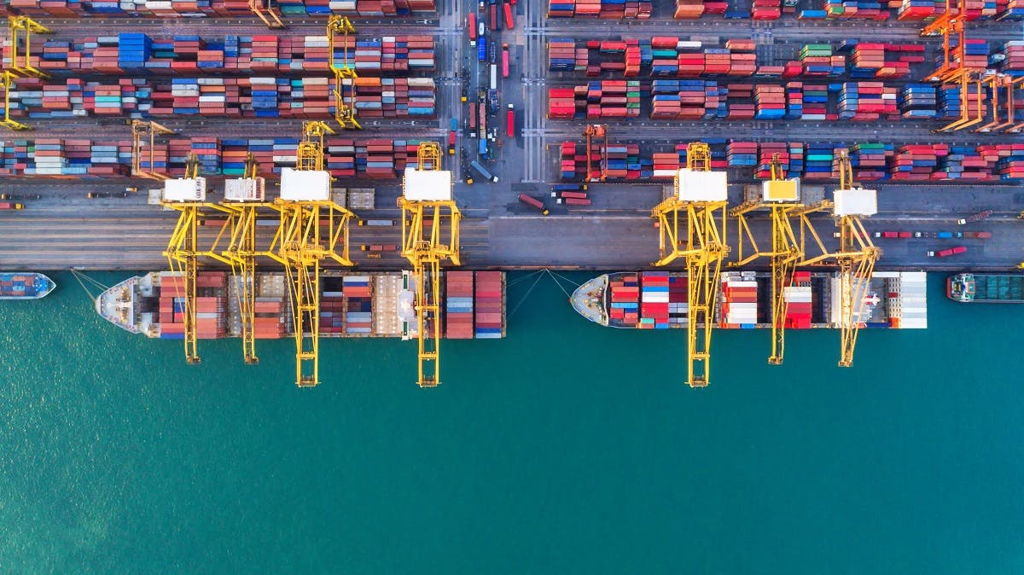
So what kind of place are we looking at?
port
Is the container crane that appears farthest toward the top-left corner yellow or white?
yellow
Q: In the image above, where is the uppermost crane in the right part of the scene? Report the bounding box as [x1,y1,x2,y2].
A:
[920,0,965,34]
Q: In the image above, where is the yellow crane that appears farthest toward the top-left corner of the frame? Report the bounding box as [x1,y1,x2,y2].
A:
[11,14,59,79]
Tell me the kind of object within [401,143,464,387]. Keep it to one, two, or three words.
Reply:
container crane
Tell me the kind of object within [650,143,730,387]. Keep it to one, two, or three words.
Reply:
container crane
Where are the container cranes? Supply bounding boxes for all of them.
[722,153,808,365]
[11,14,59,79]
[278,141,357,387]
[921,17,966,80]
[966,67,1014,134]
[334,68,365,131]
[580,122,607,182]
[650,143,730,387]
[303,120,335,169]
[329,13,360,78]
[132,120,176,182]
[219,152,296,365]
[401,143,464,387]
[250,0,286,29]
[937,67,985,132]
[0,68,39,131]
[156,154,250,365]
[785,148,881,367]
